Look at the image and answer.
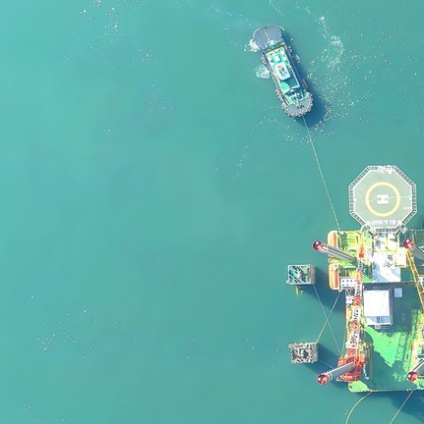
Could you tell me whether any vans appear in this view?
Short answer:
No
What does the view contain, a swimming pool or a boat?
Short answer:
boat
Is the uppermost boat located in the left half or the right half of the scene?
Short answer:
right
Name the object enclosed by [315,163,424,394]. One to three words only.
vessel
